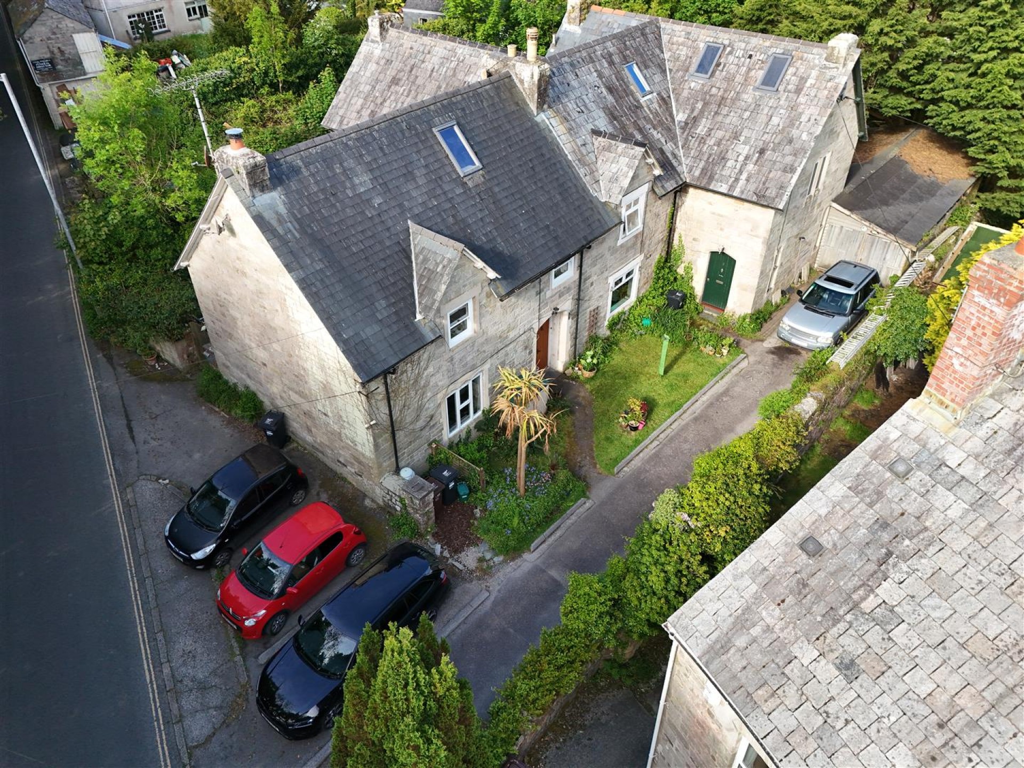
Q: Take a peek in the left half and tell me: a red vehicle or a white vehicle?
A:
red vehicle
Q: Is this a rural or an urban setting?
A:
urban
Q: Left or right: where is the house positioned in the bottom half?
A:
right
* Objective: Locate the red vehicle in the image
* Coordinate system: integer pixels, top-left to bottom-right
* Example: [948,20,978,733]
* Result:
[211,495,367,638]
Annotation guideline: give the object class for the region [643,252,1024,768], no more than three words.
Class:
house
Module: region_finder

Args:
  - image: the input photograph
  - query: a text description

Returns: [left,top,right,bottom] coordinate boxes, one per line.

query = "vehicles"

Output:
[159,436,307,567]
[256,542,453,738]
[211,495,367,638]
[781,250,886,353]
